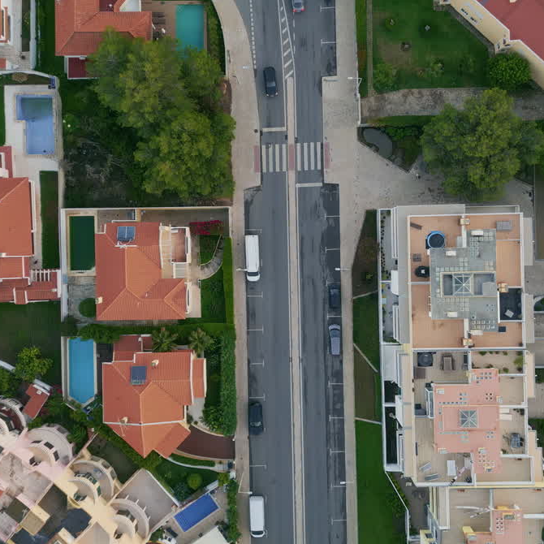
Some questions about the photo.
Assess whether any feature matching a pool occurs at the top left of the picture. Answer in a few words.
Yes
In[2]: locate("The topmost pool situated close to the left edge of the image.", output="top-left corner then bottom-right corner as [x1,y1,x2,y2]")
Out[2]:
[12,91,58,157]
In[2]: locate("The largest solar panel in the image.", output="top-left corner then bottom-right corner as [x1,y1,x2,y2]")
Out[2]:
[131,366,146,381]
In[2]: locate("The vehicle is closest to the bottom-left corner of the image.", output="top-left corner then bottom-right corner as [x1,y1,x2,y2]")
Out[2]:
[249,494,265,536]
